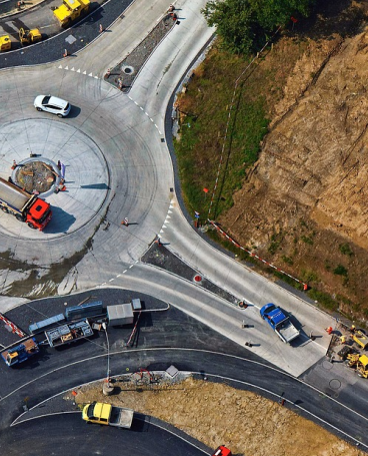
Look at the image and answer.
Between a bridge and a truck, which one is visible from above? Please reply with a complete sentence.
Of the two, only a truck appears.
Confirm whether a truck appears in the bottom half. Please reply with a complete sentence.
Yes, the scene does show a truck in the bottom half.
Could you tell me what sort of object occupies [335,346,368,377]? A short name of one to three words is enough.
work vehicle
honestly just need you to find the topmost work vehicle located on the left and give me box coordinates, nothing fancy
[54,0,93,29]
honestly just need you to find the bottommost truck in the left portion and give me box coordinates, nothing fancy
[81,401,136,430]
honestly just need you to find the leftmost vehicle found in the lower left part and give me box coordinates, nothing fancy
[0,334,42,363]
